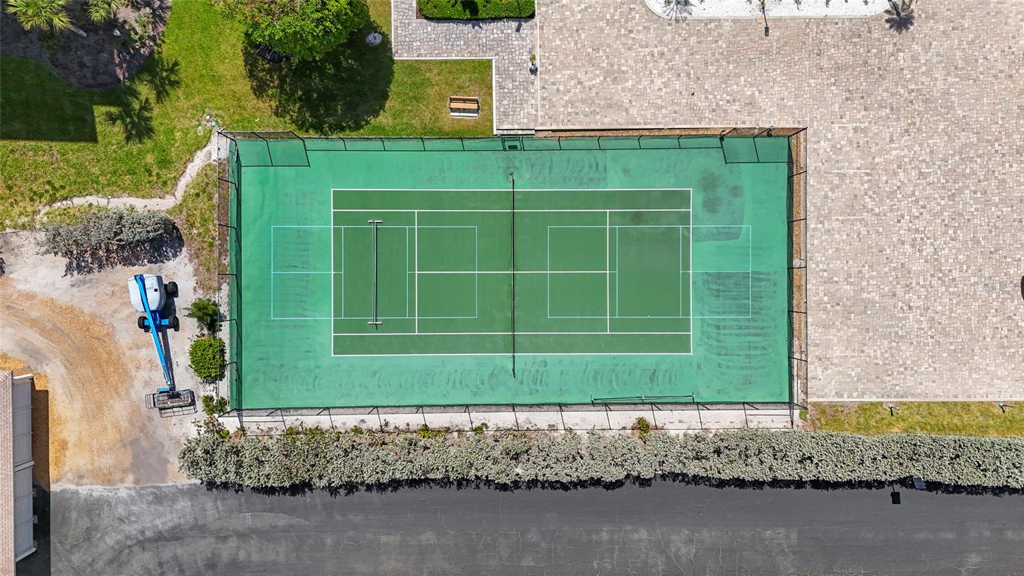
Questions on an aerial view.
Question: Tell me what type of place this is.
sports ground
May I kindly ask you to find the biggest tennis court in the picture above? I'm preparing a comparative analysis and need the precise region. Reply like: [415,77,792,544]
[229,137,793,411]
